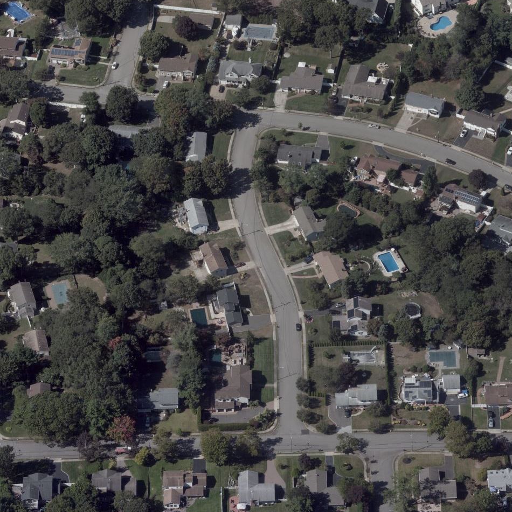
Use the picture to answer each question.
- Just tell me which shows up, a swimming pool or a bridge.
swimming pool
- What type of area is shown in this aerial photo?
residential area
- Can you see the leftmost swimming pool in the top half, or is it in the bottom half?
top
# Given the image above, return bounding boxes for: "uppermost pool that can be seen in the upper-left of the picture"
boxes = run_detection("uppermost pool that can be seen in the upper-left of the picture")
[3,1,32,22]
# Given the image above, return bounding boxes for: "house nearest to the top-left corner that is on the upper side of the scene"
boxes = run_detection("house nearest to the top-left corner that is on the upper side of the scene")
[0,34,29,62]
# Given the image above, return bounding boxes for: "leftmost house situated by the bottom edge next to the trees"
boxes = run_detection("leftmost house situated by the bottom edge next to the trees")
[22,471,55,507]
